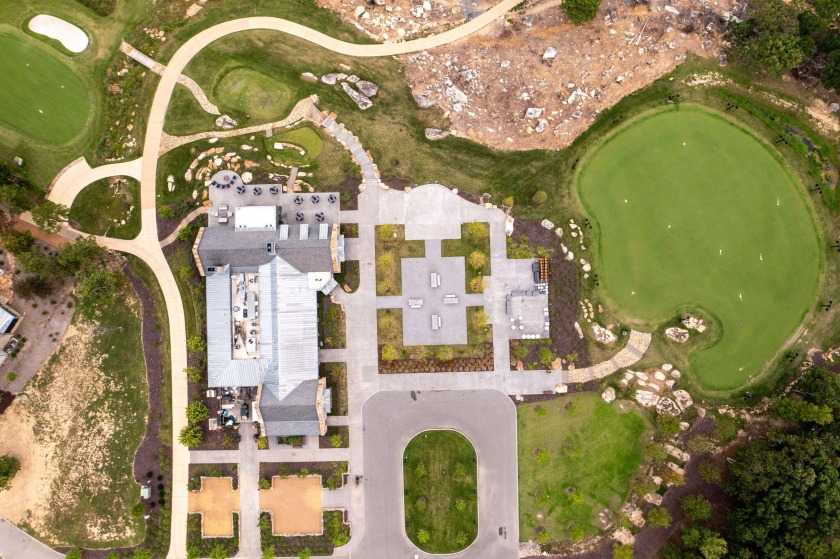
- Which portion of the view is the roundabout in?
bottom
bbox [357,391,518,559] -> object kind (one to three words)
roundabout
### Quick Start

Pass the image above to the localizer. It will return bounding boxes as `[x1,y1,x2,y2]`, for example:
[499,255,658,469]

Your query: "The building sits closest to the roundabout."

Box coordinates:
[188,206,345,437]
